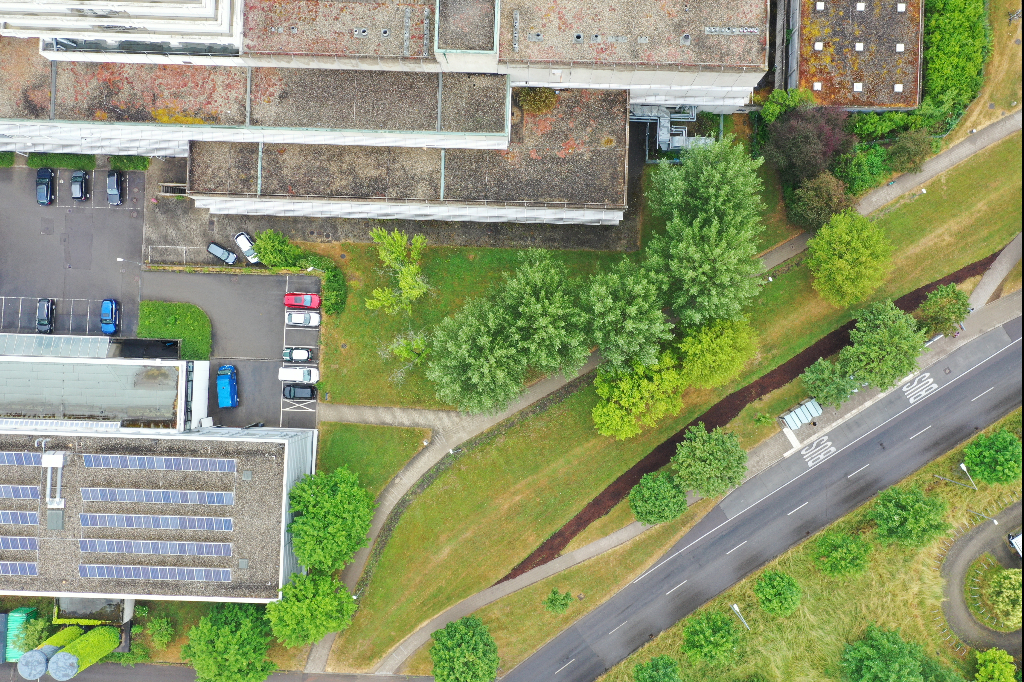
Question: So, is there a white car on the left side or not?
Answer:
Yes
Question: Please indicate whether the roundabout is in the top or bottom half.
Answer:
bottom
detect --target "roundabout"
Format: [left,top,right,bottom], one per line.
[940,500,1024,659]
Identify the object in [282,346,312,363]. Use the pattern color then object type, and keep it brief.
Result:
white car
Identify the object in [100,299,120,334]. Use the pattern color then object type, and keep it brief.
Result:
blue car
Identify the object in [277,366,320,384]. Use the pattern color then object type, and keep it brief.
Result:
white car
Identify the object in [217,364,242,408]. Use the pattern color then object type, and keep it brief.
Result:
blue vehicle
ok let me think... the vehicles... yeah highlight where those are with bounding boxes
[282,346,312,363]
[207,241,239,265]
[35,169,56,205]
[217,364,242,408]
[286,311,321,328]
[277,366,320,384]
[285,384,318,401]
[232,231,262,266]
[284,291,321,309]
[100,299,120,334]
[105,170,126,206]
[70,171,90,201]
[35,299,56,333]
